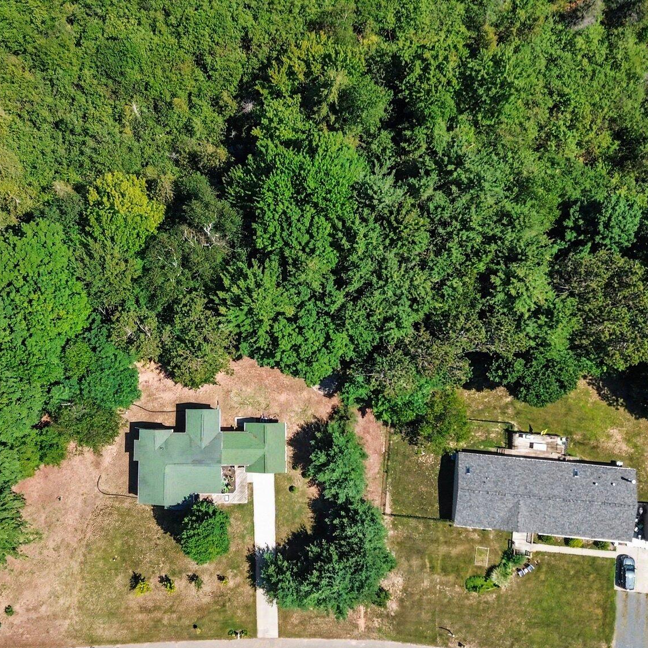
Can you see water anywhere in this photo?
No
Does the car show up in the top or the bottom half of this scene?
bottom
